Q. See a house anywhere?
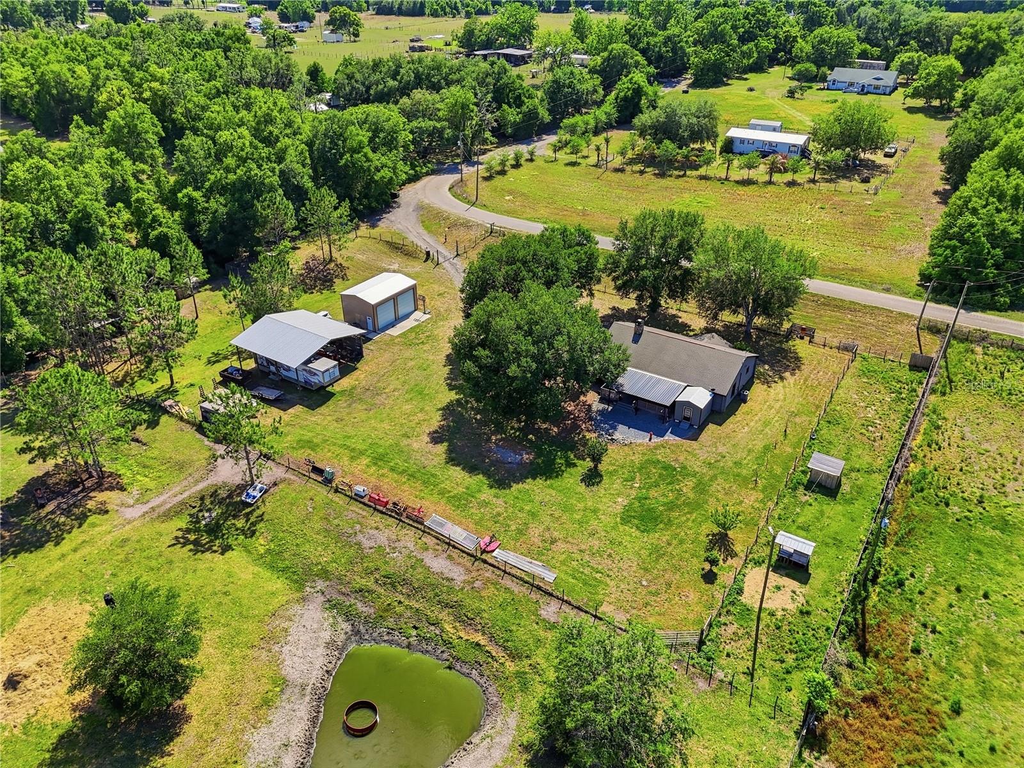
Yes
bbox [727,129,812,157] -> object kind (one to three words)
house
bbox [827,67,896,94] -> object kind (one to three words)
house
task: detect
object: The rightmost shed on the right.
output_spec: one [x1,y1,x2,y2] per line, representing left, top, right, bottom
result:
[910,351,939,370]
